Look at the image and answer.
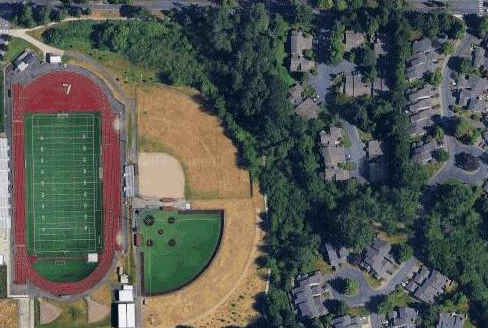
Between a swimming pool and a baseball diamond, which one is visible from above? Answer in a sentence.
There is a baseball diamond in the scene.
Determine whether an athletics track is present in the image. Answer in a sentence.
Yes, there's an athletics track down there.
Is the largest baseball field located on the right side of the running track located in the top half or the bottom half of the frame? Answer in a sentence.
You can find the largest baseball field located on the right side of the running track in the bottom half.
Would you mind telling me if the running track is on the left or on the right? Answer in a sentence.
You can find the running track on the left side of the picture.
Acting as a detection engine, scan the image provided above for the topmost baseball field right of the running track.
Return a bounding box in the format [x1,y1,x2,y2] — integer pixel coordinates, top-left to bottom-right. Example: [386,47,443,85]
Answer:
[139,151,184,198]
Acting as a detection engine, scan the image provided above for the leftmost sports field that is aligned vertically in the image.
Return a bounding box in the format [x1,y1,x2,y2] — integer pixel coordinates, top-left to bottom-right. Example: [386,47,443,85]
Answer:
[24,112,102,283]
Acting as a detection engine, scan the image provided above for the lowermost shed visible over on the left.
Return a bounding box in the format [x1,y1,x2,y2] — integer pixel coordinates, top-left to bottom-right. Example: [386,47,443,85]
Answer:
[118,304,135,328]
